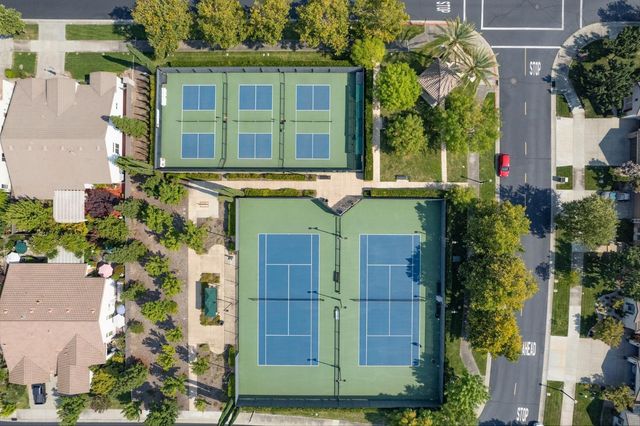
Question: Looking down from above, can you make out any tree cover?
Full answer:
Yes, the picture does contain tree cover.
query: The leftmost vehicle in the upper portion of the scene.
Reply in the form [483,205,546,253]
[496,154,509,177]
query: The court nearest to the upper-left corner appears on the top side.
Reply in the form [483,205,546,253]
[161,72,228,170]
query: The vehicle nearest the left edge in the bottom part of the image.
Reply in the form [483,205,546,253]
[31,384,48,405]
